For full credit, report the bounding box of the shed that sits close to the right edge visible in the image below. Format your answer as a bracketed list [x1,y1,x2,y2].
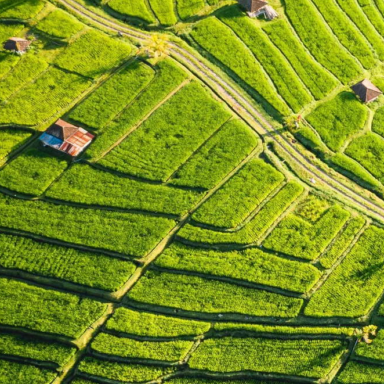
[345,80,384,105]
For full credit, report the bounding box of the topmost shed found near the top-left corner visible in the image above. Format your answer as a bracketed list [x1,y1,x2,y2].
[0,39,36,57]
